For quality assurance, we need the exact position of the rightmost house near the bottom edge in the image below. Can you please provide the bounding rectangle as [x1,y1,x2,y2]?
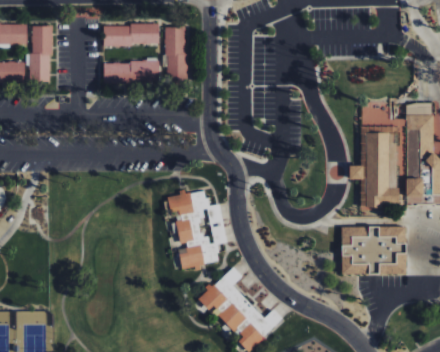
[198,266,284,352]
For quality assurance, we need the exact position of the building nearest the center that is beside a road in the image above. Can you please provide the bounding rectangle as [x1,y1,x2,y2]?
[168,190,226,271]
